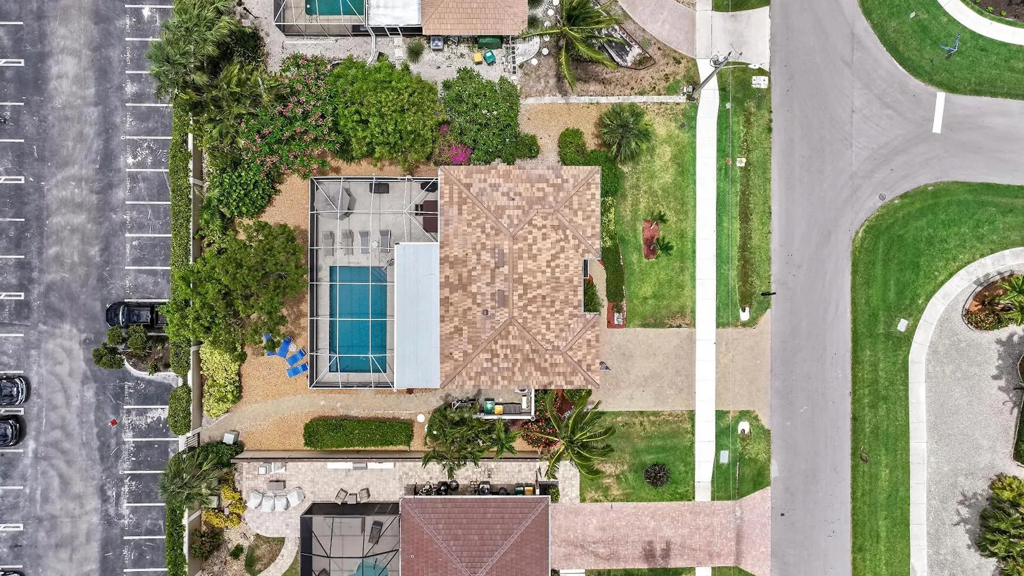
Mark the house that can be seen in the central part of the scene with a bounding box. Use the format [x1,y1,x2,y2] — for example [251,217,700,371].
[437,164,602,391]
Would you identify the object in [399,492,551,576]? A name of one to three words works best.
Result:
house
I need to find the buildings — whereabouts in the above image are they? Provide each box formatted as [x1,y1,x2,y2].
[399,492,551,576]
[421,0,528,42]
[437,164,602,391]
